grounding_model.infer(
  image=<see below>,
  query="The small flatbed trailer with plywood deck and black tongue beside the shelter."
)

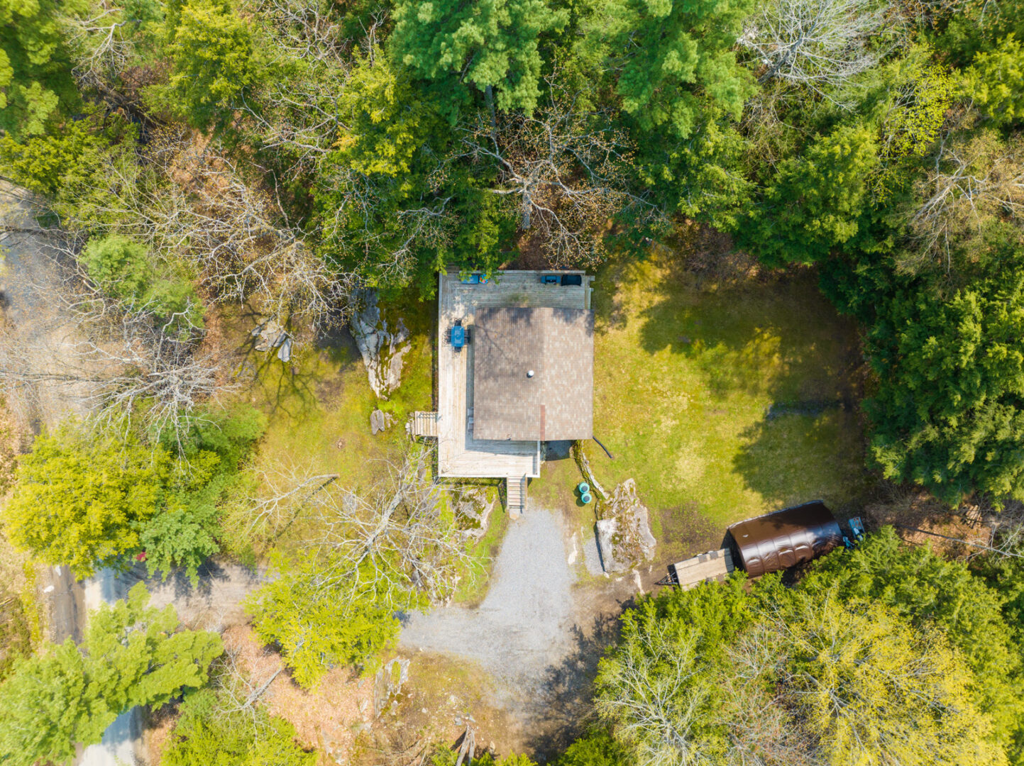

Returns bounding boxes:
[656,548,734,594]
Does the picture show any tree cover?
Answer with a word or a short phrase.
Yes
